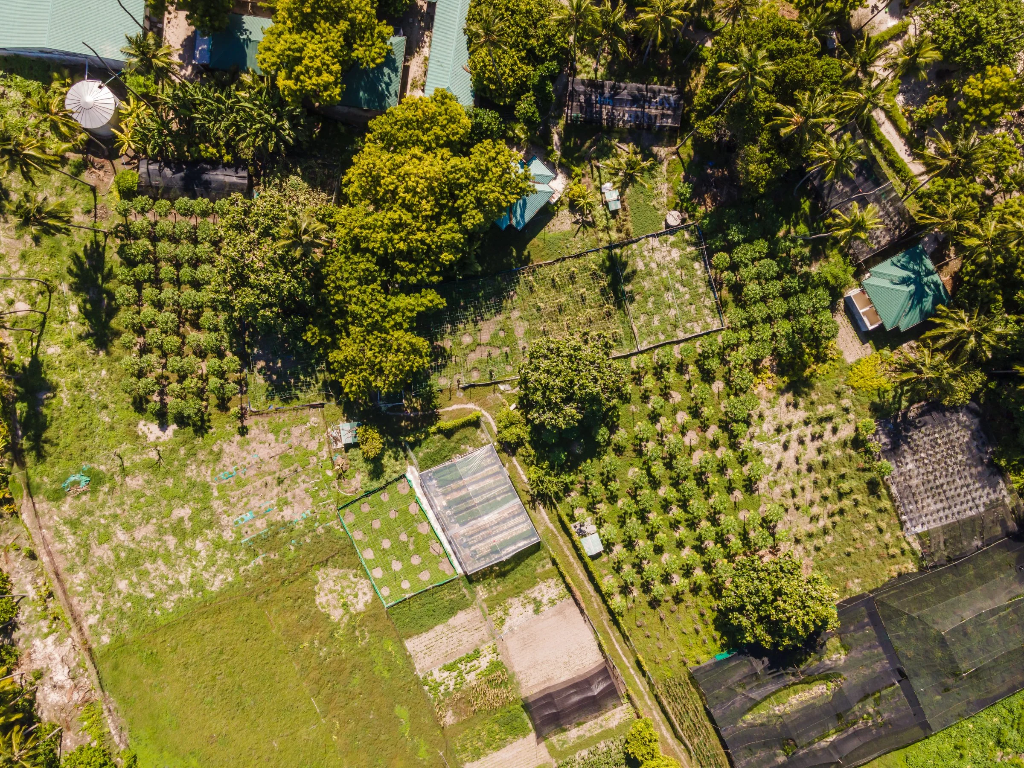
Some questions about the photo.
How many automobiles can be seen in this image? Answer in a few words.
0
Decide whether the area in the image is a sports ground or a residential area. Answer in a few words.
residential area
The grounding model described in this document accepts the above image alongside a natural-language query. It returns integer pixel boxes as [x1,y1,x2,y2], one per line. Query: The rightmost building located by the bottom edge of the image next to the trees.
[872,532,1024,745]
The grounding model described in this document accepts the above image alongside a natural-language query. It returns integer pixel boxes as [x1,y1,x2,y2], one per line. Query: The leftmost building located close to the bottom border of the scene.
[691,596,932,768]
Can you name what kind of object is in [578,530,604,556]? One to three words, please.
shed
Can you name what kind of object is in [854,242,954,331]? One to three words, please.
house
